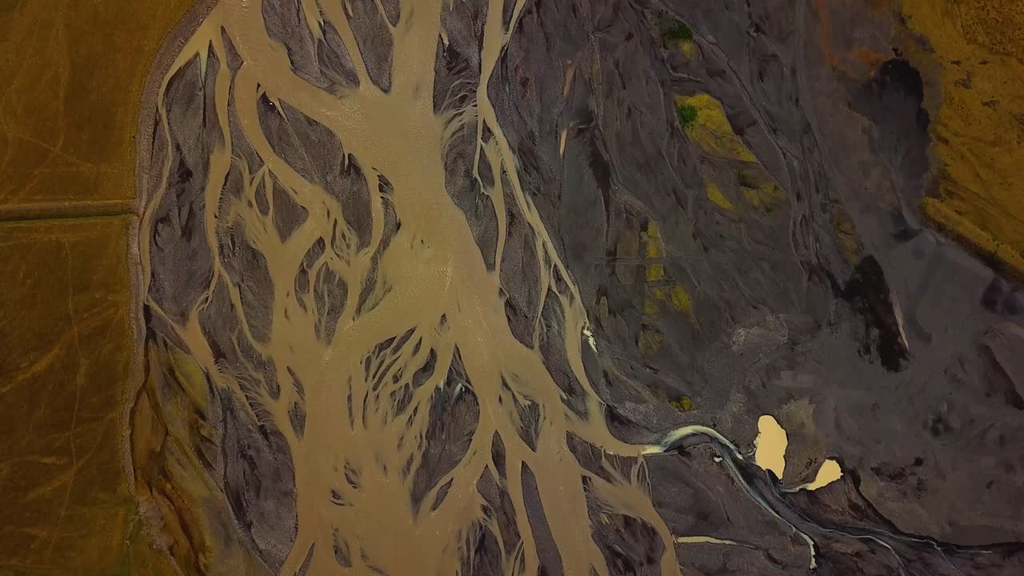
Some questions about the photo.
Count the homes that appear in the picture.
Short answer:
0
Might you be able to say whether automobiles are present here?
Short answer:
No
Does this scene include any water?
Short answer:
Yes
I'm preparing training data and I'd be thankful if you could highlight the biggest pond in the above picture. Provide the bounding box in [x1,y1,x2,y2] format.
[754,414,789,480]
